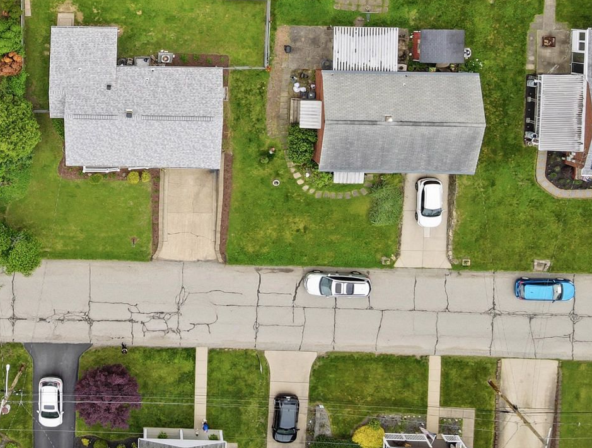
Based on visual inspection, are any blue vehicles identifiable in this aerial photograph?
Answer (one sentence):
Yes, a blue vehicle appears in the view.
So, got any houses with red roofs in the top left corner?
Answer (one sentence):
No, no house with a red roof appears in the top left corner.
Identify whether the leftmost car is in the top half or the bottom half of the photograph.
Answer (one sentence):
You can find the leftmost car in the bottom half.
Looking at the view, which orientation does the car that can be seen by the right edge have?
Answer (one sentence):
The car that can be seen by the right edge is laid out from side to side.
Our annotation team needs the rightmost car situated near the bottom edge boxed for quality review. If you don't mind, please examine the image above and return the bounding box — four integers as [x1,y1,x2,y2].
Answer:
[269,391,301,442]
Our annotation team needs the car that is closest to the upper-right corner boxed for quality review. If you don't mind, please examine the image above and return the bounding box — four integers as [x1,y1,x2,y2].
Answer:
[417,177,447,227]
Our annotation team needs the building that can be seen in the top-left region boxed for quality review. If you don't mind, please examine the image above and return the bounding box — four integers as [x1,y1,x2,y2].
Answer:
[48,26,226,173]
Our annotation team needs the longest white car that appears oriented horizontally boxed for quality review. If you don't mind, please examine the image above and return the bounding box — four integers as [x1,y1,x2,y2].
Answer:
[302,271,371,302]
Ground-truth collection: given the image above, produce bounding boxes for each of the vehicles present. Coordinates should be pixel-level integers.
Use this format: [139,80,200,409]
[417,177,447,227]
[302,271,371,302]
[514,276,574,306]
[269,391,301,442]
[35,375,64,428]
